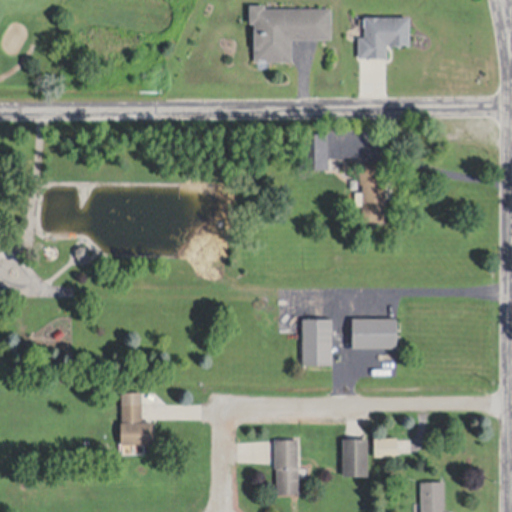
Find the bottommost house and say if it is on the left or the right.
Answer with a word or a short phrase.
right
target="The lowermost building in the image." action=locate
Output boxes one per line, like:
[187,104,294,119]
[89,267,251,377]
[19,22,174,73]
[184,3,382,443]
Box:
[416,480,446,512]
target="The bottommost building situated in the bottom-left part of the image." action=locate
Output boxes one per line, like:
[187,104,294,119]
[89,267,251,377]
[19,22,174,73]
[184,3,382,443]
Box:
[120,394,153,458]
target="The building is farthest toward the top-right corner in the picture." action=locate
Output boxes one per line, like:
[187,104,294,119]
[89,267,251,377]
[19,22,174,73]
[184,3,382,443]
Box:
[358,16,412,58]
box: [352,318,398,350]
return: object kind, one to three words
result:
barn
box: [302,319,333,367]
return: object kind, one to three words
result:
barn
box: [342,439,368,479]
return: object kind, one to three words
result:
house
